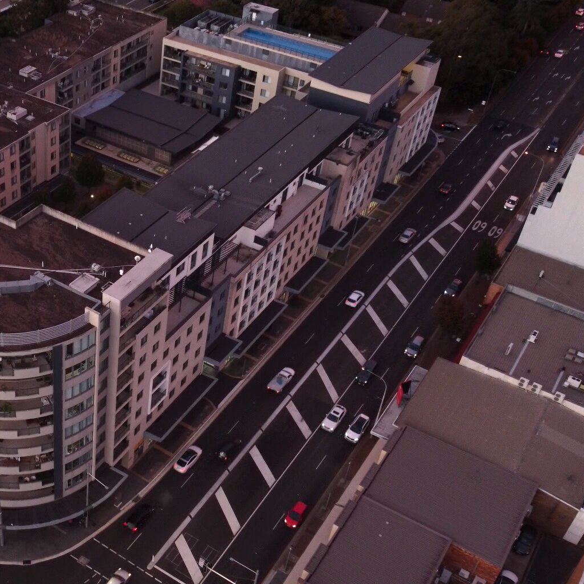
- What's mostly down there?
buildings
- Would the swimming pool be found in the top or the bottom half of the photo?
top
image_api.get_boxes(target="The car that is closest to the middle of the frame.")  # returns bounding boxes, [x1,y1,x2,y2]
[344,290,366,310]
